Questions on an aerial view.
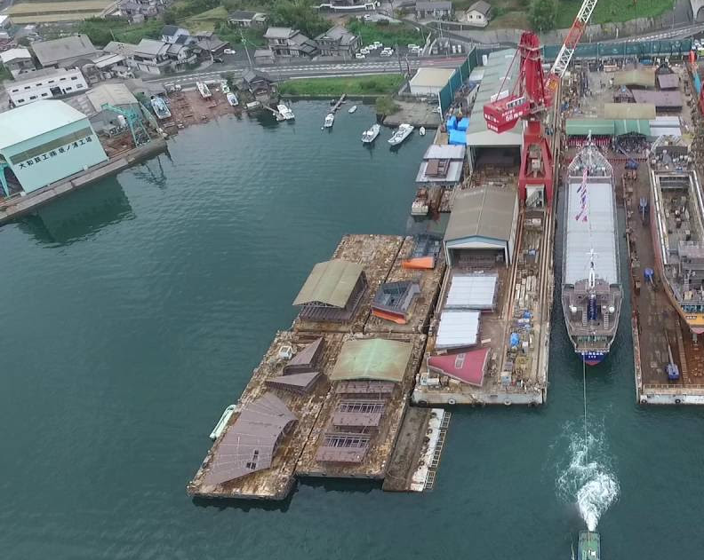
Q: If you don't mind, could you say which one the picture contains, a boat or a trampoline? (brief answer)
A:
boat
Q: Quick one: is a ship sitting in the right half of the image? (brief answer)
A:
Yes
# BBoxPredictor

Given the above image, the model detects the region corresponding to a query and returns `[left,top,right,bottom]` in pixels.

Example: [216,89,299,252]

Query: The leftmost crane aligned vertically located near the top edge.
[481,0,605,214]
